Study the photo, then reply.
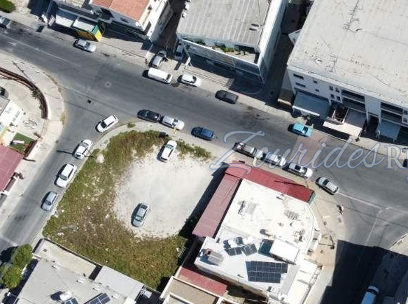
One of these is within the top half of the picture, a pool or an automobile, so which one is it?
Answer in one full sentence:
It is an automobile that can be seen within the top half of the picture.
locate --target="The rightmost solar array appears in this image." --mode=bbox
[246,261,288,283]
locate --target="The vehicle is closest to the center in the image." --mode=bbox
[190,127,214,141]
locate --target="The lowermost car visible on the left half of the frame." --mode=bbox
[130,201,149,229]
